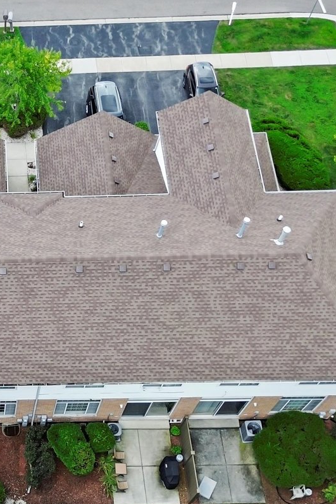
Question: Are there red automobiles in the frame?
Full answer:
No, there is no red automobile in the image.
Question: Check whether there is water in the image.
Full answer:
No, the picture contains no water.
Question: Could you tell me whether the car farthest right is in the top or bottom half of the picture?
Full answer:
You can find the car farthest right in the top half.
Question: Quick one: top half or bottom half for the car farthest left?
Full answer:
The car farthest left is in the top half of the image.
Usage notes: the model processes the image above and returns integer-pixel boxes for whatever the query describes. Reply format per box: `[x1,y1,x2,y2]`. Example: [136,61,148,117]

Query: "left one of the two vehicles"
[84,84,127,123]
